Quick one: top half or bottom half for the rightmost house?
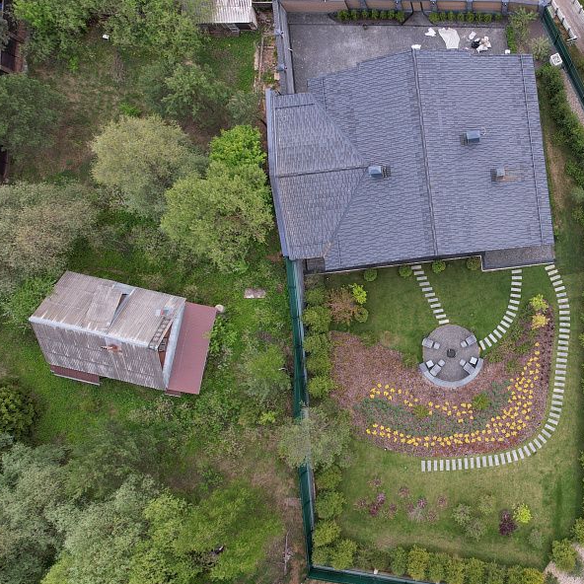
top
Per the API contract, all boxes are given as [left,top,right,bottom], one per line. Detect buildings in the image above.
[265,43,555,276]
[28,272,218,402]
[199,0,262,33]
